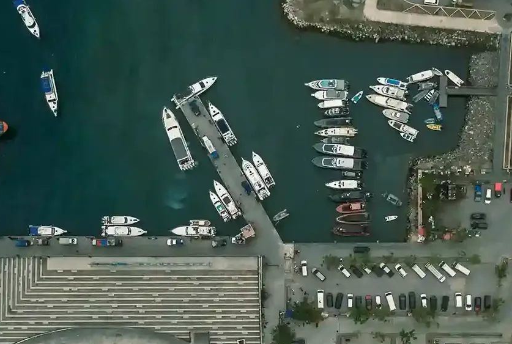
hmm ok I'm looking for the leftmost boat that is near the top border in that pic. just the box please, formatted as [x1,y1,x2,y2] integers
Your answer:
[15,0,41,39]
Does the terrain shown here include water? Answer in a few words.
Yes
